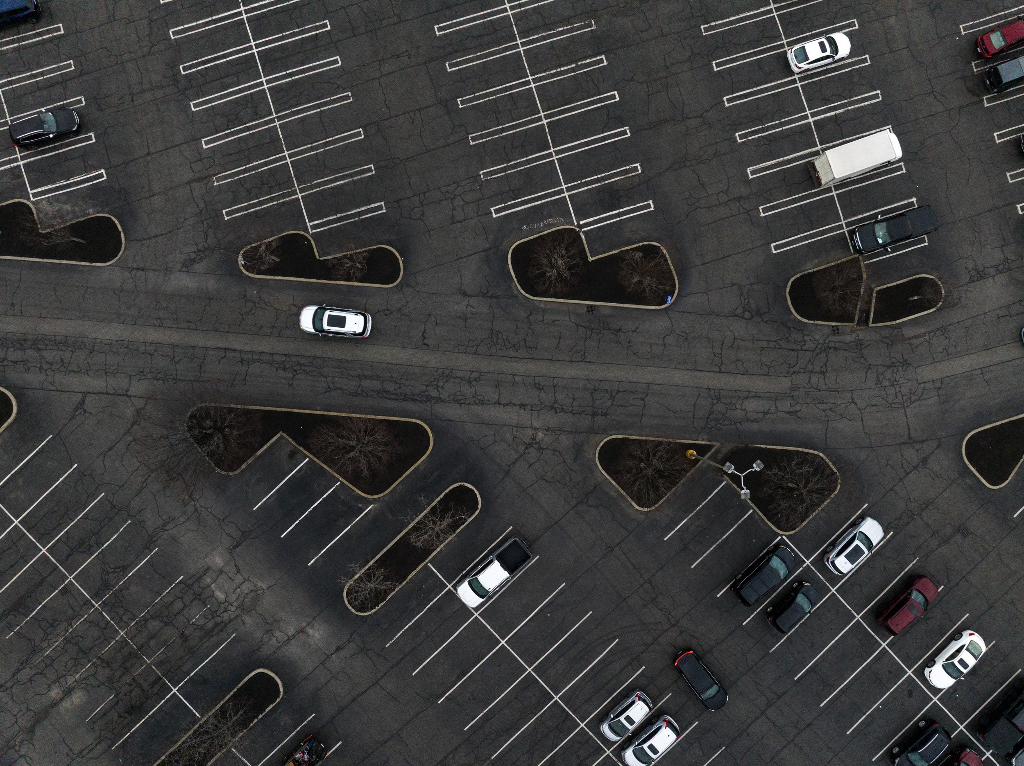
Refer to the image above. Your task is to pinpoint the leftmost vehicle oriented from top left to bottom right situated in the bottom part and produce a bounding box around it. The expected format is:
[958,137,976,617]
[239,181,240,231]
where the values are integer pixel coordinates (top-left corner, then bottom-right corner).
[674,649,726,711]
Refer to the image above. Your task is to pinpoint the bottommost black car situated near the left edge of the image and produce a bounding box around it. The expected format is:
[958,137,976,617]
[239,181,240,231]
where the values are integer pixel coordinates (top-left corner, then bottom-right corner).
[8,107,84,150]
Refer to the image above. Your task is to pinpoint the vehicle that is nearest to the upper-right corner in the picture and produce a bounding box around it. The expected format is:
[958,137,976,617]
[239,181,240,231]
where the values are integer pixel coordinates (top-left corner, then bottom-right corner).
[973,17,1024,59]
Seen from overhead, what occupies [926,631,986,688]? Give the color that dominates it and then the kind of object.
white car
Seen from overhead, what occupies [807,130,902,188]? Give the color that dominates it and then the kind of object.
white truck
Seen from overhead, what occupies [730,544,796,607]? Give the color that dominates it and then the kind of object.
black car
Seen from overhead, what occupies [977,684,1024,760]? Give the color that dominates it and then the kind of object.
black truck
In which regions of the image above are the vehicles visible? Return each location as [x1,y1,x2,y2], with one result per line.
[674,649,726,711]
[889,719,954,766]
[621,714,681,766]
[300,303,372,338]
[0,0,45,33]
[936,745,979,766]
[600,688,654,743]
[766,581,820,634]
[982,55,1024,94]
[786,33,850,75]
[459,535,534,608]
[730,544,796,607]
[852,204,944,253]
[8,107,84,150]
[977,684,1024,760]
[807,130,902,188]
[875,575,938,637]
[822,518,884,576]
[926,631,986,688]
[973,17,1024,59]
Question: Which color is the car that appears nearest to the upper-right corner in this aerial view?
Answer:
red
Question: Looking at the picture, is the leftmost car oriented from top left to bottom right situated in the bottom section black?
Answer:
Yes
